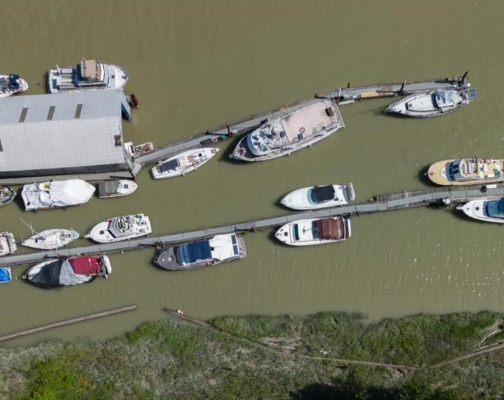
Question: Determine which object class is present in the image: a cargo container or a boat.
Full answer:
The one in the frame is a boat.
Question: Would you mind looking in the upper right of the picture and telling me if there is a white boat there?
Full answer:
Yes, I can see a white boat in the upper right of the picture.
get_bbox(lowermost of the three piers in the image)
[0,183,504,266]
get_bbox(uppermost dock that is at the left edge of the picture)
[0,168,133,186]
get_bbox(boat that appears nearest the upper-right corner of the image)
[385,84,479,118]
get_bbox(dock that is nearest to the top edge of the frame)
[134,75,470,166]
